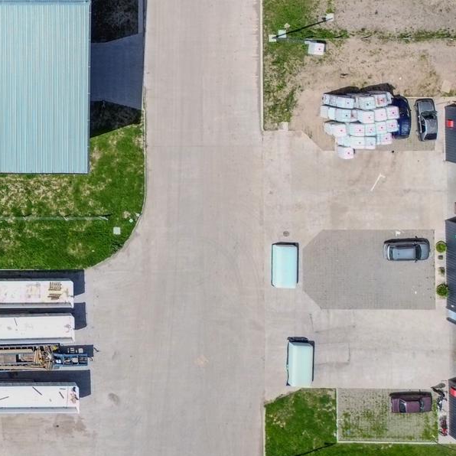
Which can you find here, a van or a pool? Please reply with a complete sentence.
The one in the frame is a van.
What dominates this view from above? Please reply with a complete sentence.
Most of the picture is covered by paved ground.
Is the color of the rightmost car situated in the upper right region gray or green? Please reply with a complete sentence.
The color of the rightmost car situated in the upper right region is gray.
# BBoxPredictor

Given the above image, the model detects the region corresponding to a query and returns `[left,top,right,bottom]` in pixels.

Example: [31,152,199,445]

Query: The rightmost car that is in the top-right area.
[414,98,440,141]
